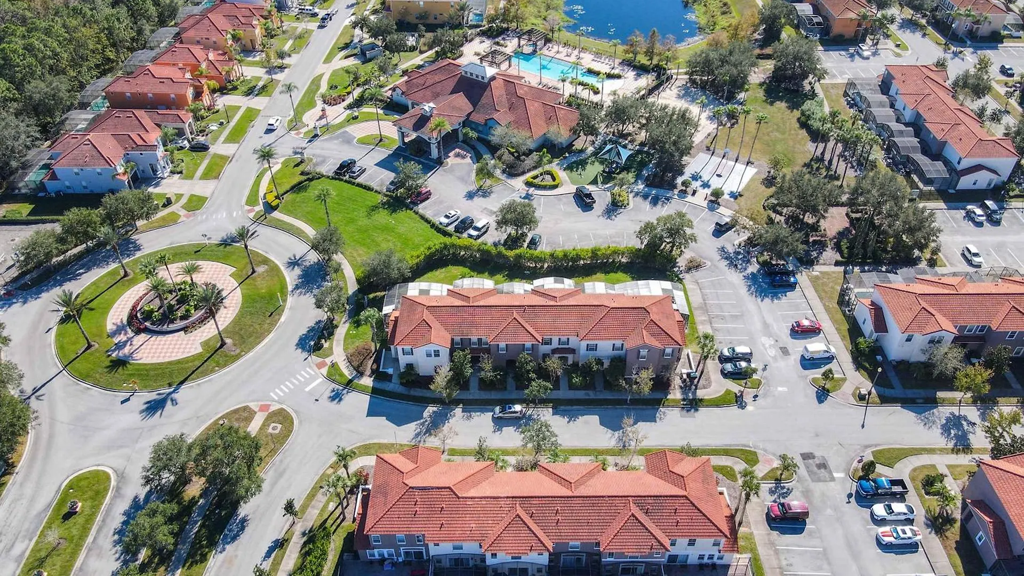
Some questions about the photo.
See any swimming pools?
Yes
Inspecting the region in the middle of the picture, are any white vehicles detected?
Yes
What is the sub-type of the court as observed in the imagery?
basketball court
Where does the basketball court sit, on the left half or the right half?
right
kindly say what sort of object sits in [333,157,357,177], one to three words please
vehicle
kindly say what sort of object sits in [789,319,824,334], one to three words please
car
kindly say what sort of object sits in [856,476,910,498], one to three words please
truck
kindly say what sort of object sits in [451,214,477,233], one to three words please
car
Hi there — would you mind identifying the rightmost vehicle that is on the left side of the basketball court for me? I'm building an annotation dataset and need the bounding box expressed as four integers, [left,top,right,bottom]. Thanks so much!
[574,186,597,207]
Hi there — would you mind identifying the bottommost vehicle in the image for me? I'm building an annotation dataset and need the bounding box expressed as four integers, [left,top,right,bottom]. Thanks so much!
[875,525,924,547]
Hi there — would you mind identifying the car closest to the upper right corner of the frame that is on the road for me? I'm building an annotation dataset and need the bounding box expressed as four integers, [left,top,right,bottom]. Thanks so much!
[1000,63,1014,76]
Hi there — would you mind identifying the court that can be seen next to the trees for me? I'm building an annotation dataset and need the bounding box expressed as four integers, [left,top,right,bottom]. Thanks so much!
[676,152,757,200]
